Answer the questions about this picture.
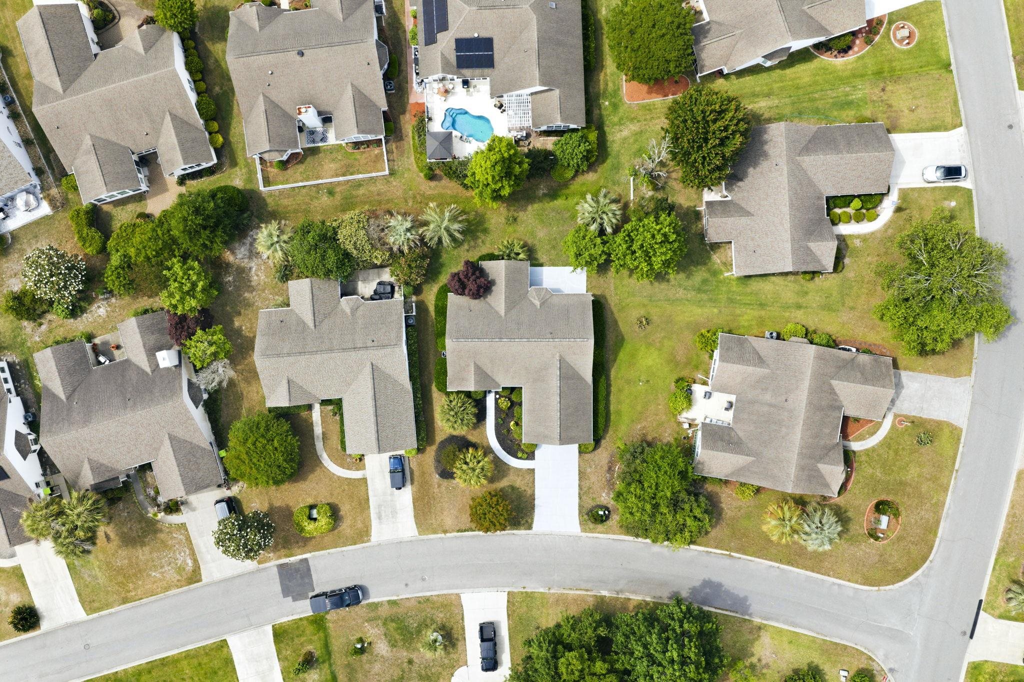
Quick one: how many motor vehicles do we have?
5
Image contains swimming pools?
Yes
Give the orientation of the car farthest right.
horizontally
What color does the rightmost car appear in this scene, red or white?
white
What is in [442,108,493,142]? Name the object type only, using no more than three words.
swimming pool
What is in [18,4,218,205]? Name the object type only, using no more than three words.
house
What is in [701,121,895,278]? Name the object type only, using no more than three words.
house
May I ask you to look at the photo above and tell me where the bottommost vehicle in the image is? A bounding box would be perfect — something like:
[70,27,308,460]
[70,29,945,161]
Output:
[477,619,498,672]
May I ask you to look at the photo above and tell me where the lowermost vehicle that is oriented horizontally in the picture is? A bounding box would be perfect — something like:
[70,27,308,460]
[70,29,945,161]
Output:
[307,585,365,613]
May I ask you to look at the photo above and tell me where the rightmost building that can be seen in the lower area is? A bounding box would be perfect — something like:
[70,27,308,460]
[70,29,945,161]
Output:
[692,333,895,496]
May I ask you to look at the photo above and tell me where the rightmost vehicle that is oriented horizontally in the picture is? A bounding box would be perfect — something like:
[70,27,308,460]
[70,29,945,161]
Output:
[920,161,969,182]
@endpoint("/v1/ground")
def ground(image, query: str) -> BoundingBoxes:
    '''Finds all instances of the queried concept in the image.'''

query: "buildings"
[446,260,594,445]
[701,121,895,278]
[0,103,34,195]
[254,276,418,454]
[0,356,63,550]
[692,0,871,78]
[34,309,230,501]
[692,333,895,496]
[18,4,218,205]
[226,0,389,163]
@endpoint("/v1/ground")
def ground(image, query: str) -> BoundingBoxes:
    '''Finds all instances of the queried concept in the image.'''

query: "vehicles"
[477,619,498,672]
[307,585,365,613]
[386,452,408,494]
[920,161,969,182]
[215,495,238,531]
